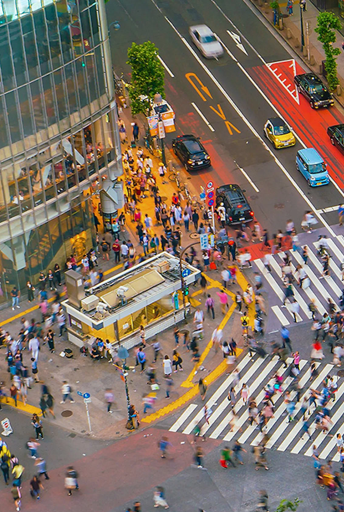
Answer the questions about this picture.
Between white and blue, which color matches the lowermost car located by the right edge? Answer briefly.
blue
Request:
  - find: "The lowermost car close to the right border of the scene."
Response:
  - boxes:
[295,141,331,182]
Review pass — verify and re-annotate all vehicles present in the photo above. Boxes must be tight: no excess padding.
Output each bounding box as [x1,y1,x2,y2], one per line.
[187,25,225,57]
[295,141,331,182]
[265,113,297,146]
[214,178,259,224]
[173,135,213,169]
[294,72,335,109]
[327,123,344,155]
